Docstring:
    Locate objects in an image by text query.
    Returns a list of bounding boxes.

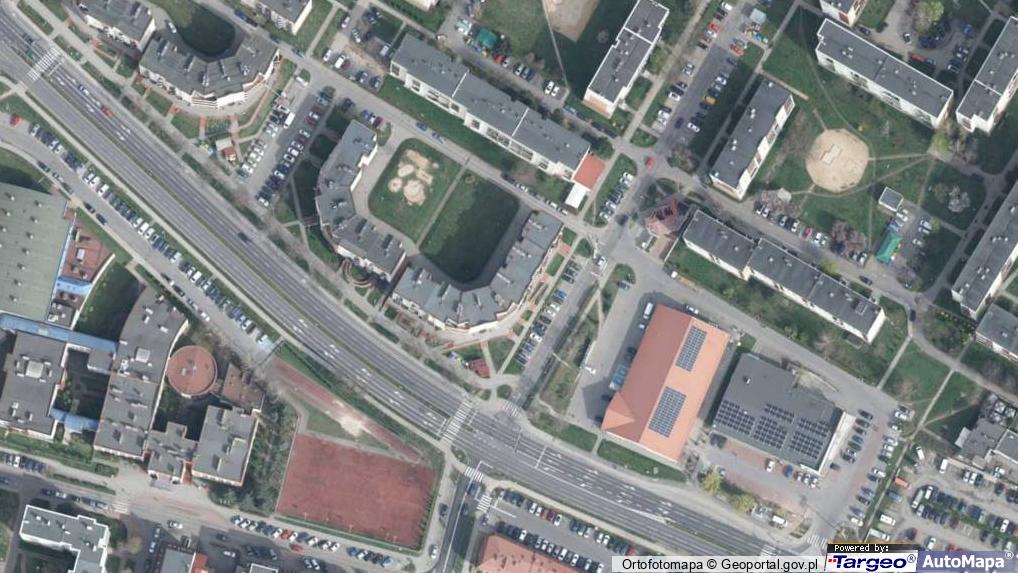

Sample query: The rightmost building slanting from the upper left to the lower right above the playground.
[815,19,952,132]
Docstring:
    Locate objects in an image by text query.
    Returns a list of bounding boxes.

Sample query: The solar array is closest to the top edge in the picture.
[677,325,707,371]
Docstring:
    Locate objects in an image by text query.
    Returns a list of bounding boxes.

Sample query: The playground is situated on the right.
[805,129,869,190]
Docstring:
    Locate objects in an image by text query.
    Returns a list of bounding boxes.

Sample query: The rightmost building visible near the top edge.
[954,16,1018,135]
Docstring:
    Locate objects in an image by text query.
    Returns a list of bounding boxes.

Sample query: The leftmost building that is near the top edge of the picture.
[75,0,156,53]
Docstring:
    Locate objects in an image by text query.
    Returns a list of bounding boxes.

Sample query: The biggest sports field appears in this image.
[277,433,433,547]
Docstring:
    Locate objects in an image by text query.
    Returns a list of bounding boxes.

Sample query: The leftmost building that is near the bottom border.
[20,505,109,573]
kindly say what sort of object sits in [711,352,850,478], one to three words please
building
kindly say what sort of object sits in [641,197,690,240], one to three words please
building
